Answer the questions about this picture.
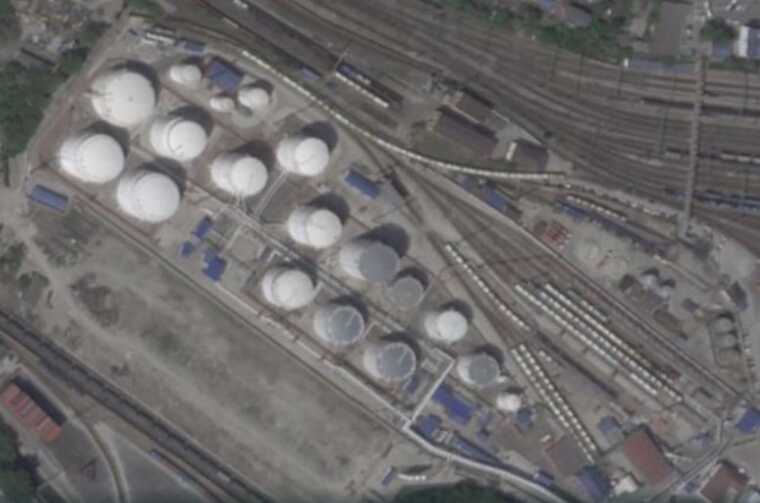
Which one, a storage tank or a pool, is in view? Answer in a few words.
storage tank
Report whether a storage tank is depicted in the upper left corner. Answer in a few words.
Yes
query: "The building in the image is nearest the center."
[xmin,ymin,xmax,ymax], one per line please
[340,169,381,198]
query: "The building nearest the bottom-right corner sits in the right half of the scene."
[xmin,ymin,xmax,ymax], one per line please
[695,460,753,503]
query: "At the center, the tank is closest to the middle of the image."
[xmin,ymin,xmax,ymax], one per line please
[338,237,399,283]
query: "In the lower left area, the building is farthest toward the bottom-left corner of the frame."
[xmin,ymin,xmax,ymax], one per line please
[0,379,63,443]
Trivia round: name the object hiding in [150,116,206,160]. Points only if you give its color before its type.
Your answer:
white storage tank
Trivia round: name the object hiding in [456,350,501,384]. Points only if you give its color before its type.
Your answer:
gray storage tank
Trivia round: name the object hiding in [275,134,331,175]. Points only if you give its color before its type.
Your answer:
white storage tank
